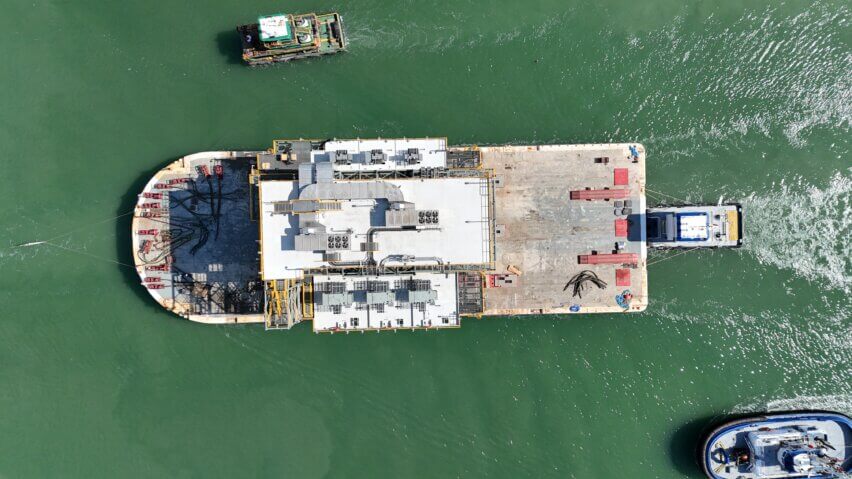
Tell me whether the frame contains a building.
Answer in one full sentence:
Yes, a building is visible in the scene.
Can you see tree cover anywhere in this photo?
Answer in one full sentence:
No, there is no tree cover in the image.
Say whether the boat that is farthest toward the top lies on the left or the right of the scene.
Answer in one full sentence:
You can find the boat that is farthest toward the top on the left side of the picture.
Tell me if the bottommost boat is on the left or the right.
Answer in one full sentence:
The bottommost boat is on the right side of the image.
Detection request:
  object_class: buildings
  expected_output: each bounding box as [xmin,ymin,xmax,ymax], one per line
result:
[312,273,460,336]
[257,160,492,280]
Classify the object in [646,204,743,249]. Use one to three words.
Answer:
boat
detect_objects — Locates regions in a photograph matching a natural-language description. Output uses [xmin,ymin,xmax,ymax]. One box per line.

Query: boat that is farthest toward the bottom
[697,408,852,479]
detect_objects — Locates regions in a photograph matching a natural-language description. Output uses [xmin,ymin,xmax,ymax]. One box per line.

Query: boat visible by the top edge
[240,9,343,69]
